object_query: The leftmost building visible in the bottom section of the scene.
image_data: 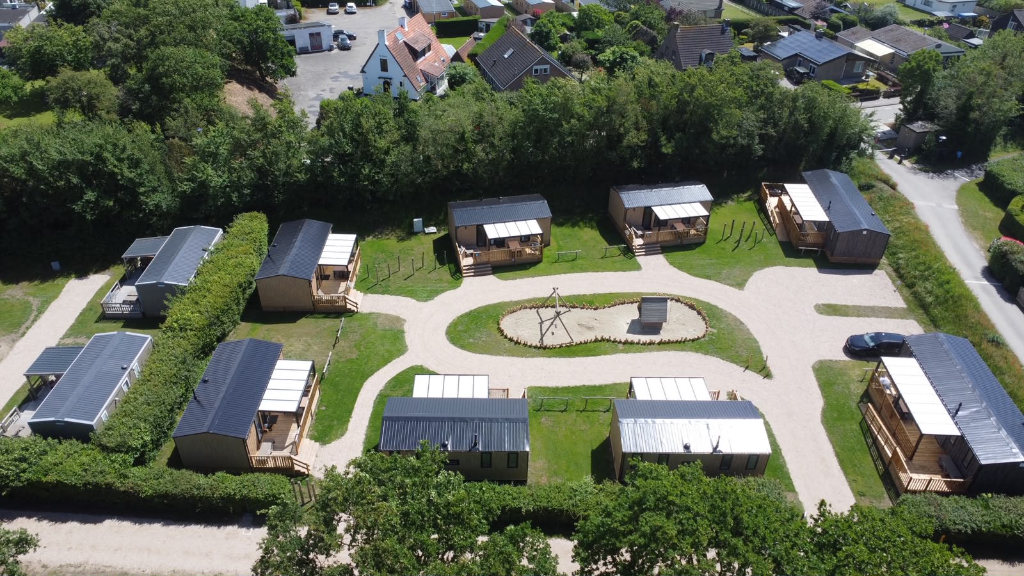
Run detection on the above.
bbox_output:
[0,330,159,456]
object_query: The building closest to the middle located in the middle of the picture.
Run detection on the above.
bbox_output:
[448,191,553,276]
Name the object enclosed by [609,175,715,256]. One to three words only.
building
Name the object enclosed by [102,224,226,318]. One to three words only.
house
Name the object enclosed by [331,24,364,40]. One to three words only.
car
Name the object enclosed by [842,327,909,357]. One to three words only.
car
